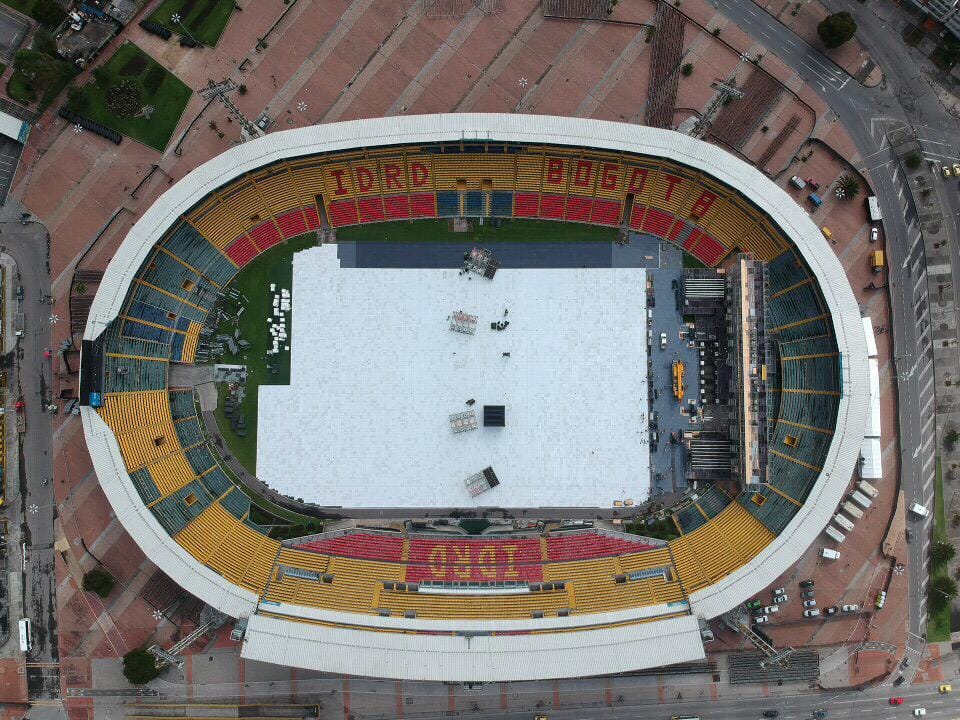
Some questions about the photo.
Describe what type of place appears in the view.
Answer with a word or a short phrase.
sports ground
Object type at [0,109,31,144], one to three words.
building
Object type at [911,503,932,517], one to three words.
vehicle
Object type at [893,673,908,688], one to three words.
car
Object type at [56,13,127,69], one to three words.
house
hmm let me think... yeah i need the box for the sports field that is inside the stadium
[190,218,712,543]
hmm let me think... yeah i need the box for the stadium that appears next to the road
[79,112,871,682]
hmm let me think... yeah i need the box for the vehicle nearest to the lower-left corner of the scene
[13,619,29,655]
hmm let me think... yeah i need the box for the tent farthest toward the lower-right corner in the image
[855,437,883,478]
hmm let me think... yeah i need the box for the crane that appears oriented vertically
[668,362,688,408]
